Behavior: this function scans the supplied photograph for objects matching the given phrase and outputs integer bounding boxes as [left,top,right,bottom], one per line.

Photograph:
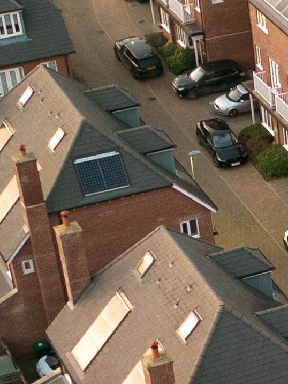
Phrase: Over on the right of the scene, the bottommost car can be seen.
[197,119,249,166]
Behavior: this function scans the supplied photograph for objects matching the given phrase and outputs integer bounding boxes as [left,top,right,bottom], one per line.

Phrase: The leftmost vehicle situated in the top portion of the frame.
[114,43,167,79]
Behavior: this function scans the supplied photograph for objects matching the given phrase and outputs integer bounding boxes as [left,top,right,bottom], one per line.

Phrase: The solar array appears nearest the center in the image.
[74,150,135,202]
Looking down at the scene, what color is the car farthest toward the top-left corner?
black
